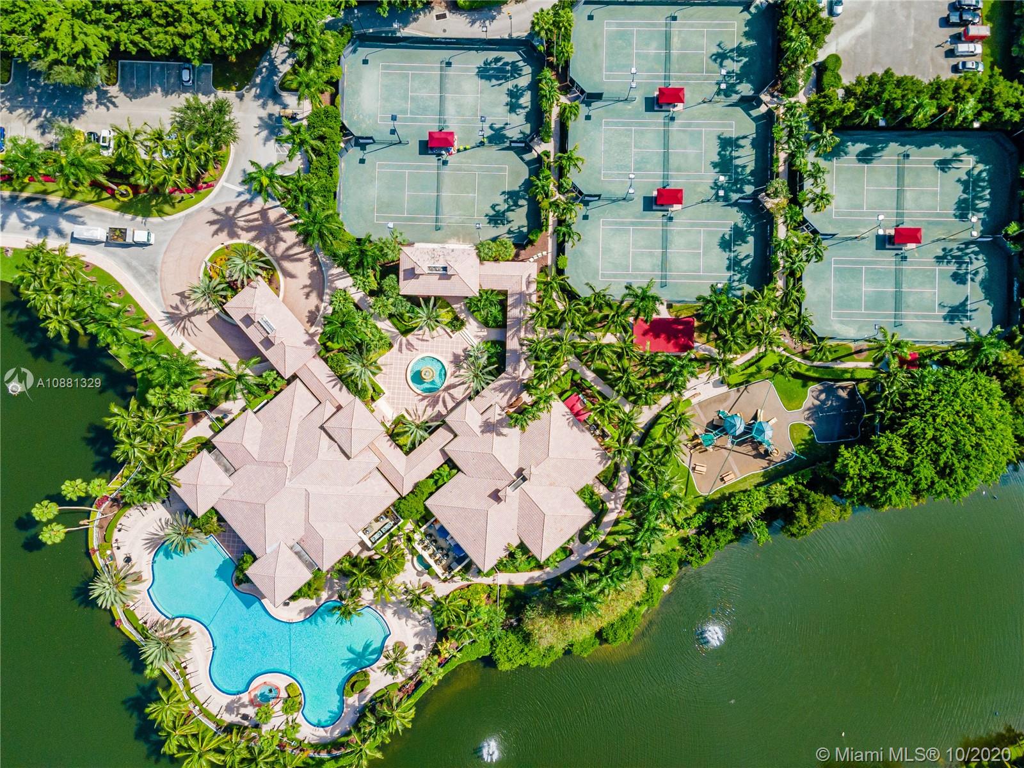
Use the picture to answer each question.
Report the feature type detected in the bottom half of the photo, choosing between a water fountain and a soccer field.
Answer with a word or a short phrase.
water fountain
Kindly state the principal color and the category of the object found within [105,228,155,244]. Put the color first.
white vehicle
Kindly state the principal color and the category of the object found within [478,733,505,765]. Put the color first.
white fountain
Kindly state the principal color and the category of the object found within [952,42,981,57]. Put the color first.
white car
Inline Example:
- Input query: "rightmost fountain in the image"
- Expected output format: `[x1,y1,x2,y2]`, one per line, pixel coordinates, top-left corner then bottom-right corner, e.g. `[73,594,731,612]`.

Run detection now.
[694,619,728,650]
